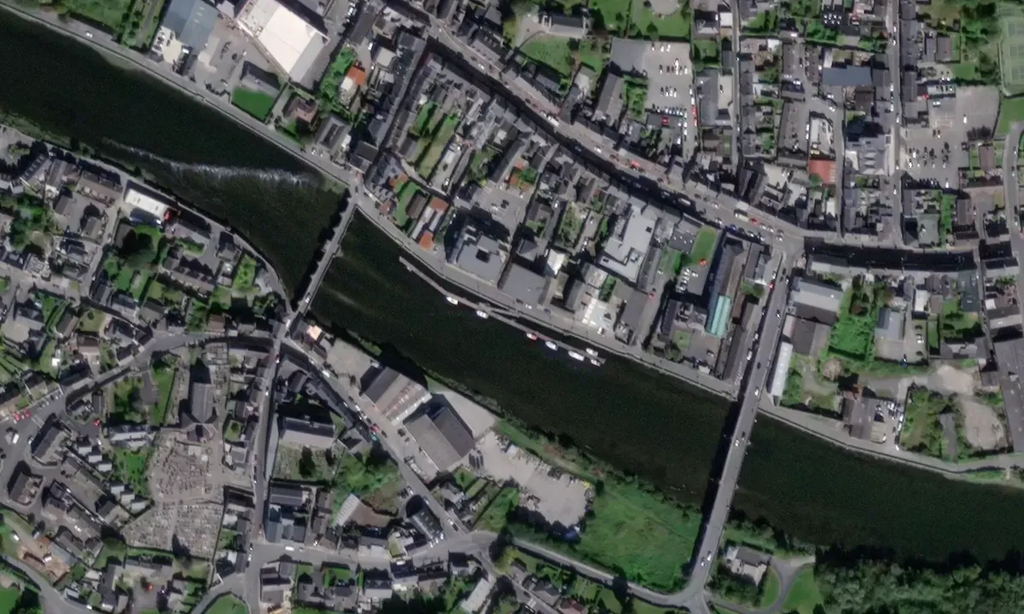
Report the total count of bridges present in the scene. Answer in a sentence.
The photo contains 2 bridges.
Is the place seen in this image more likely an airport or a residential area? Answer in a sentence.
It's a residential area.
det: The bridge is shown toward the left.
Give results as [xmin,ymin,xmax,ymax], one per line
[292,193,360,317]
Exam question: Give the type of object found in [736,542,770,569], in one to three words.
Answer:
shed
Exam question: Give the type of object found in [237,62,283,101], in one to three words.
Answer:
building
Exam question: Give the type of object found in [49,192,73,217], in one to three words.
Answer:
house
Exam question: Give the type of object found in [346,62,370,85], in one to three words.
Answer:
house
